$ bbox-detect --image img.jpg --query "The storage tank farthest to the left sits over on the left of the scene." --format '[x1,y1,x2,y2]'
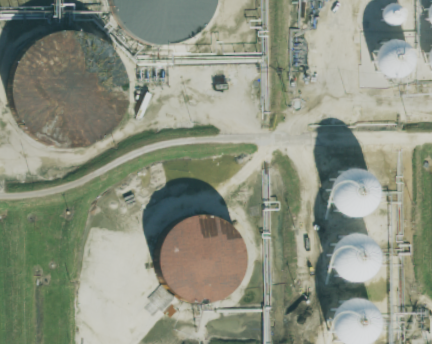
[6,29,128,146]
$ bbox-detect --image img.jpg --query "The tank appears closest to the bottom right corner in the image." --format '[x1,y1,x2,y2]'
[324,298,384,344]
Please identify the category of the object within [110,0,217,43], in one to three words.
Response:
storage tank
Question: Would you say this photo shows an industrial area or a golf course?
industrial area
